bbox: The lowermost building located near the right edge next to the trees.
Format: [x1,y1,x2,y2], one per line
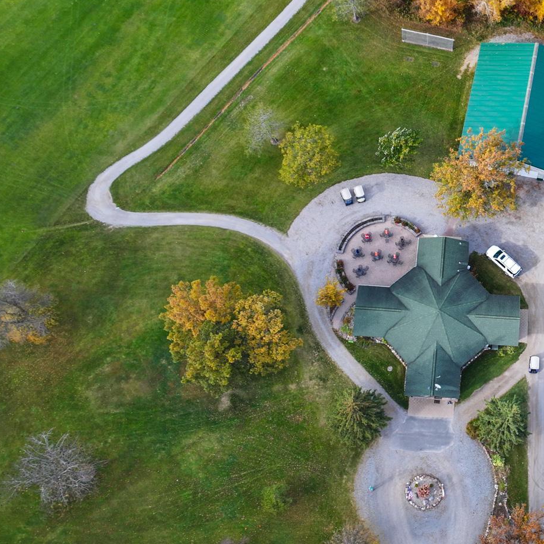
[352,237,520,400]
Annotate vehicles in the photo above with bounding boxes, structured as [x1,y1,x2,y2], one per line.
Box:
[354,184,367,203]
[341,187,354,206]
[486,246,523,281]
[527,356,539,375]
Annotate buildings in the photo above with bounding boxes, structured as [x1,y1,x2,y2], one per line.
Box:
[352,237,520,400]
[459,43,544,181]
